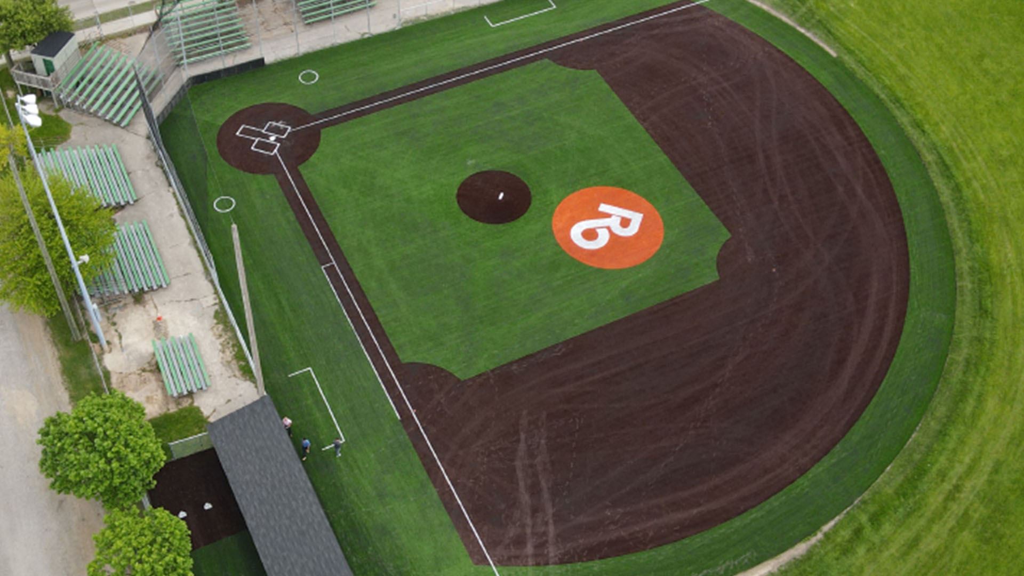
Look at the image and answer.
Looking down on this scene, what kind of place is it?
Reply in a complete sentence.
This image shows a sports ground.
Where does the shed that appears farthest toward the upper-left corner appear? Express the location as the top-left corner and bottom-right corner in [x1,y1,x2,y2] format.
[19,31,83,108]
